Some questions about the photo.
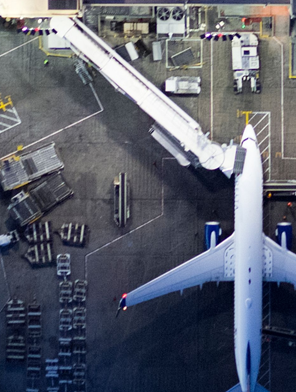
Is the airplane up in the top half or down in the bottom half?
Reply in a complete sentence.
Seen from above, the airplane lies in the bottom half of the view.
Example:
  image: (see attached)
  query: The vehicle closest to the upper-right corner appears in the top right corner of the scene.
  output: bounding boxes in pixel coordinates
[231,33,260,92]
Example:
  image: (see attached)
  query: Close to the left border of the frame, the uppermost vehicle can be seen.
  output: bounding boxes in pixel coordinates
[0,142,64,192]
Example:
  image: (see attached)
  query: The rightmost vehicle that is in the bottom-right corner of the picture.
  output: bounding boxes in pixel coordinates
[262,323,296,345]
